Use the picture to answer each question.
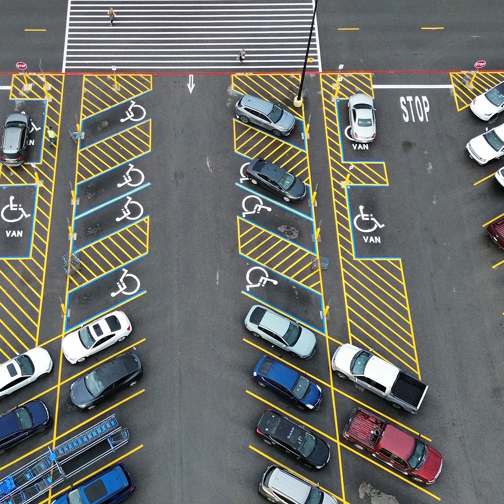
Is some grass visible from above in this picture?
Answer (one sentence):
No, there is no grass in the image.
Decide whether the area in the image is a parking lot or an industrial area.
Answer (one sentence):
This looks like a parking lot.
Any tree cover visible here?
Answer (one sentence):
No, tree cover can't be seen anywhere here.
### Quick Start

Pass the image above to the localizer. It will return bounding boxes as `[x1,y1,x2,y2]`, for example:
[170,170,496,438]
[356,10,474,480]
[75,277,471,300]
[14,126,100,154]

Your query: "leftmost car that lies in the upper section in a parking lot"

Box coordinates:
[0,112,33,169]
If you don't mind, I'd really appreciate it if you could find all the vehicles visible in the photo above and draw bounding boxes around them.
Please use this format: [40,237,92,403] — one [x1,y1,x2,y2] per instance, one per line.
[231,94,295,138]
[336,404,448,487]
[327,342,432,418]
[482,215,504,254]
[68,351,147,413]
[248,353,324,413]
[472,82,504,120]
[50,462,136,504]
[241,303,314,359]
[345,91,379,144]
[258,463,342,504]
[241,155,309,204]
[59,309,134,366]
[0,398,57,457]
[0,112,33,169]
[464,124,504,170]
[0,348,55,402]
[249,407,336,472]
